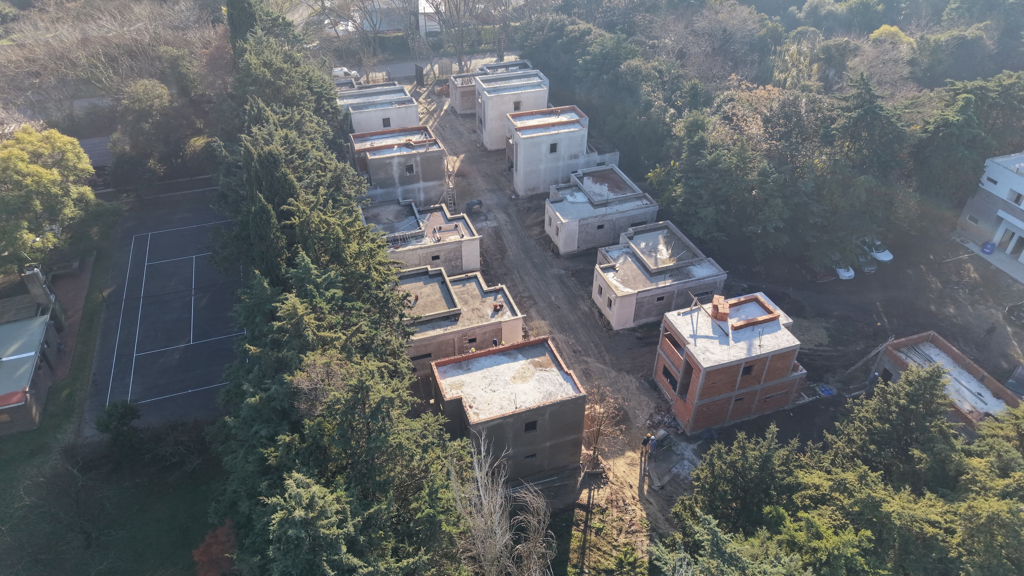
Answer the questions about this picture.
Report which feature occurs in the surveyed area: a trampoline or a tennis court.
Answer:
tennis court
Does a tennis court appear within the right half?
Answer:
No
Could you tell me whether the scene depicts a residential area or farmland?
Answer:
residential area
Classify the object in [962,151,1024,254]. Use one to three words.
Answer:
house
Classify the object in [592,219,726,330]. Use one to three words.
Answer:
house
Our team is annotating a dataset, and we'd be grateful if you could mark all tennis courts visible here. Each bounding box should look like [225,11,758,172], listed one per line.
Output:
[74,195,301,461]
